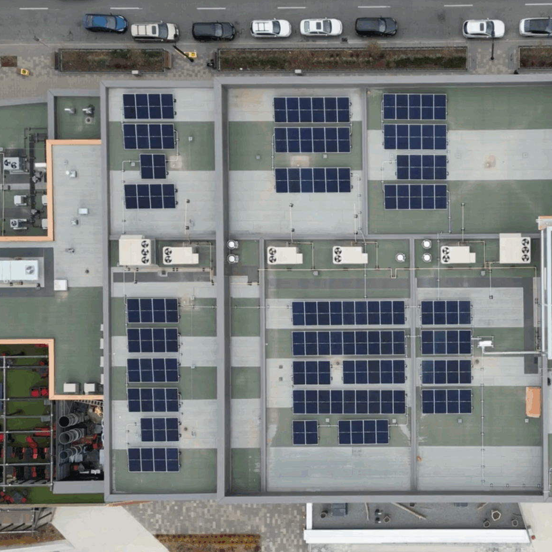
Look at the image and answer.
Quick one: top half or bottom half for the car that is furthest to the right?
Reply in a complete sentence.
The car that is furthest to the right is in the top half of the image.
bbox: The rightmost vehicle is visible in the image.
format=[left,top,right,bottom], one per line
[519,16,552,38]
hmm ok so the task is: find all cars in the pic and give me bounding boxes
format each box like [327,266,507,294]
[249,18,293,40]
[130,20,180,43]
[462,18,505,40]
[519,16,552,38]
[299,17,344,39]
[191,20,236,42]
[354,16,398,38]
[82,12,129,34]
